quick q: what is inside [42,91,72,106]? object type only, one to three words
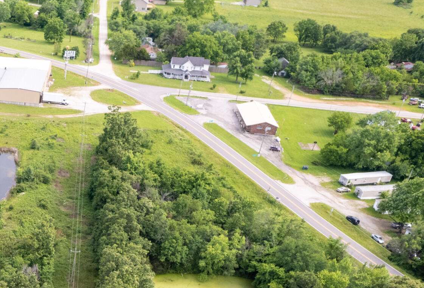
vehicle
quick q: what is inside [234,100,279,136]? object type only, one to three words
building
